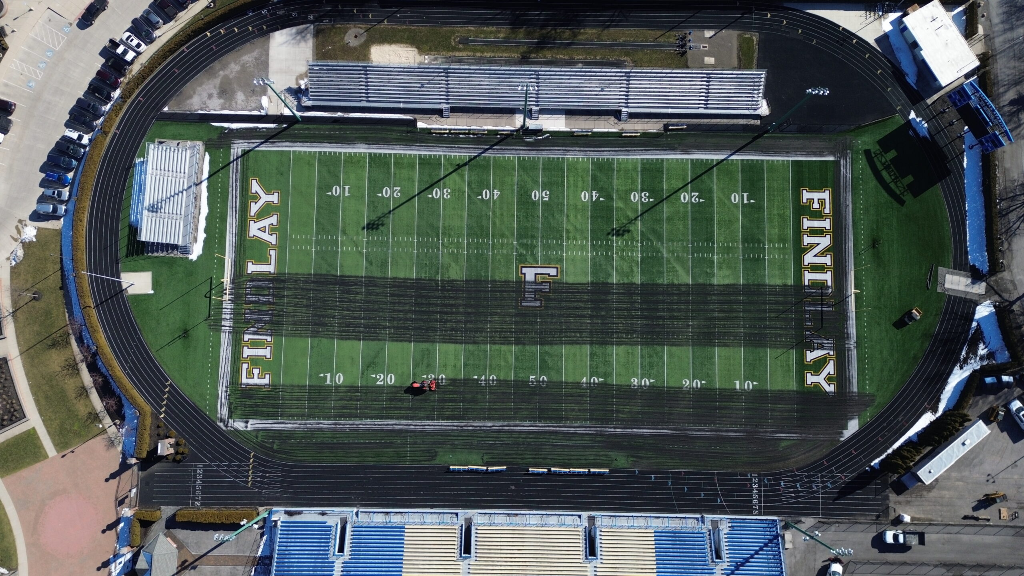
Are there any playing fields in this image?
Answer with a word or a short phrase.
Yes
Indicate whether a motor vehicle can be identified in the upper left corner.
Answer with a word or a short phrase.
Yes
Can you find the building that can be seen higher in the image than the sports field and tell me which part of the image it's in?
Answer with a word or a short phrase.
top right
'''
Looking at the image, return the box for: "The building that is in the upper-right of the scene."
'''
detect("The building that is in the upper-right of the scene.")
[896,0,981,91]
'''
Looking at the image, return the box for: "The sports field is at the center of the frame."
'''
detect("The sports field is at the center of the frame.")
[119,115,953,472]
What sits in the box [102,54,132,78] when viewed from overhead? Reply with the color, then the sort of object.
black car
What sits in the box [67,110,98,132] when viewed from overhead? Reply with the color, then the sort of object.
black car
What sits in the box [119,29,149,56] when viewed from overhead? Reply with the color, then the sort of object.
white car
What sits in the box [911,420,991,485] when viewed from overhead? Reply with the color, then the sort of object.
white trailer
